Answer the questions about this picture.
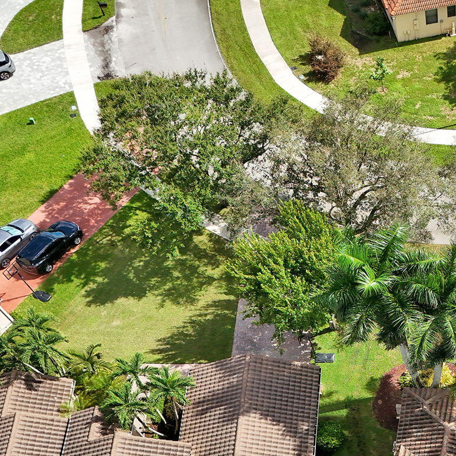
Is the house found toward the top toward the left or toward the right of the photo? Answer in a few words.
right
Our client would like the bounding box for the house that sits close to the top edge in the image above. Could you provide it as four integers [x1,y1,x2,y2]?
[382,0,456,42]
